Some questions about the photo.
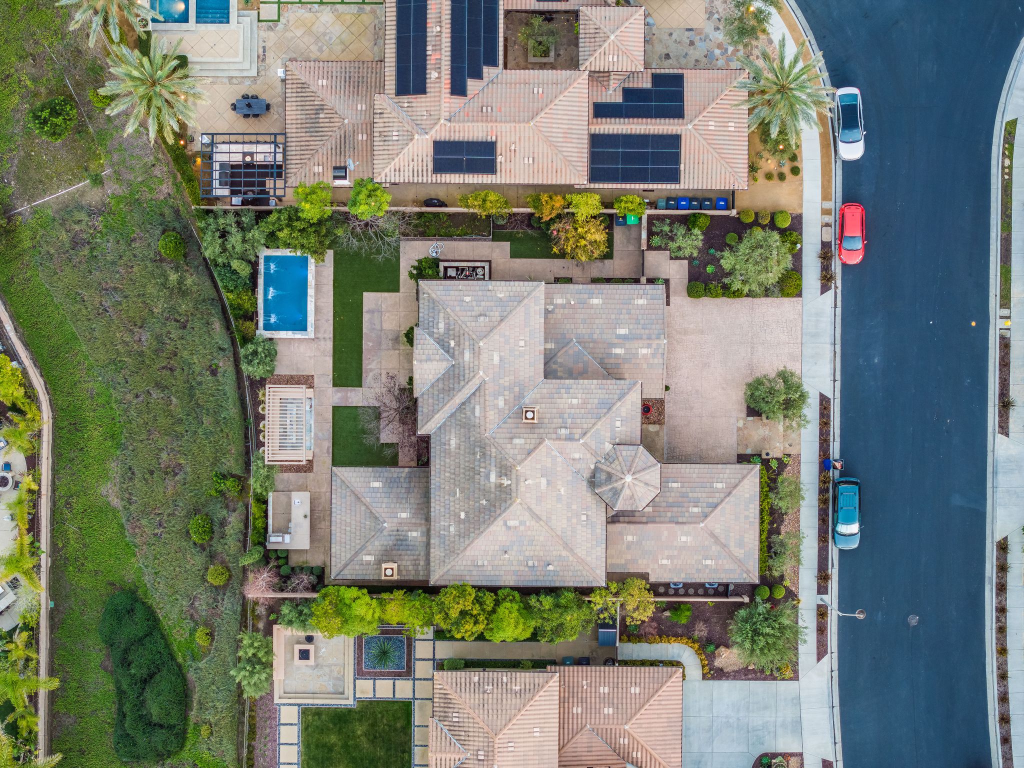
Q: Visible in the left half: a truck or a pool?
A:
pool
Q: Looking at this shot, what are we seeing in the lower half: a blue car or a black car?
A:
blue car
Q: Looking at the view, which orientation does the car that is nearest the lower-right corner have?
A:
vertically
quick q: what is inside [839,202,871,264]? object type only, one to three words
car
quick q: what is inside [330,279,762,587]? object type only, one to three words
house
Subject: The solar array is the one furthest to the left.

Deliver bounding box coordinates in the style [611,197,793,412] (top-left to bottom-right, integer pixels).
[396,0,428,95]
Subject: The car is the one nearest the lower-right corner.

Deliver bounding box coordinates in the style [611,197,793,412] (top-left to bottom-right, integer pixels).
[833,478,867,552]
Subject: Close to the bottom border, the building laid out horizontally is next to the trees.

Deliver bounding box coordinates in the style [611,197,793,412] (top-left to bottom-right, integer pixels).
[428,664,685,768]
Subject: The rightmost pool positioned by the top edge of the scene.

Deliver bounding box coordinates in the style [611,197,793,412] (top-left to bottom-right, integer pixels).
[195,0,238,30]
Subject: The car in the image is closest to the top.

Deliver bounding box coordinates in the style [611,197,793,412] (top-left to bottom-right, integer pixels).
[835,86,870,160]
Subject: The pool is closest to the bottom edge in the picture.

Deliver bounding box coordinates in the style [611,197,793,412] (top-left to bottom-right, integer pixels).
[257,249,315,338]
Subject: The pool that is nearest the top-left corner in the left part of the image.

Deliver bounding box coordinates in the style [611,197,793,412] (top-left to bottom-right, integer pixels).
[146,0,195,30]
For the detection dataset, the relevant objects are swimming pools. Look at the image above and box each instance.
[146,0,195,30]
[257,249,315,338]
[195,0,238,30]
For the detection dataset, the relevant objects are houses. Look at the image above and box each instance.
[428,664,685,768]
[284,0,750,191]
[330,279,762,587]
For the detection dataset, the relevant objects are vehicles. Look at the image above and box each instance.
[839,202,871,264]
[833,478,867,552]
[835,86,870,160]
